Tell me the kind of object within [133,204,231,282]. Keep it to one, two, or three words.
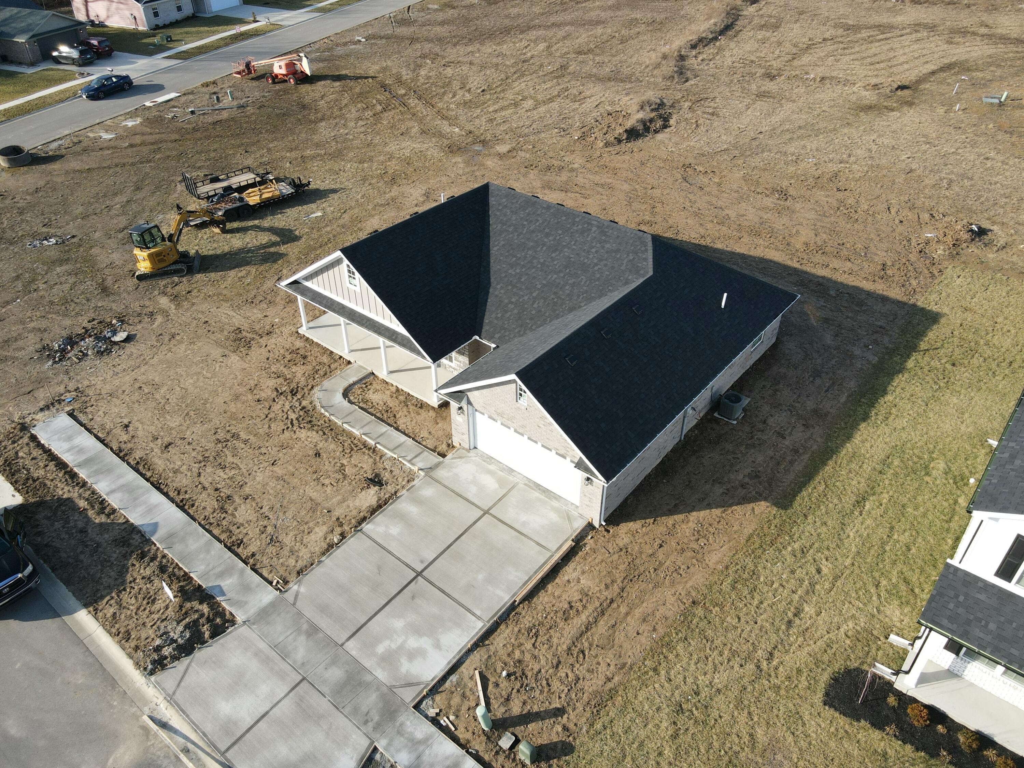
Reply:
work vehicle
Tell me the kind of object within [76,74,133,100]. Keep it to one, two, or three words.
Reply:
car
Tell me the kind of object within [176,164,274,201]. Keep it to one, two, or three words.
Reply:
trailer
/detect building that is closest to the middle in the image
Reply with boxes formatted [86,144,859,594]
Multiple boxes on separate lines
[277,180,798,536]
